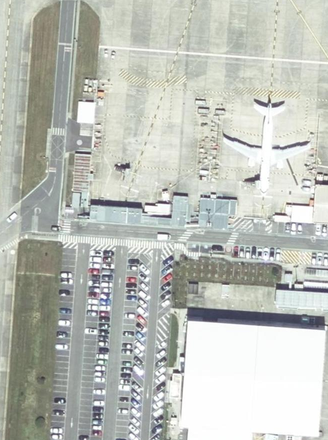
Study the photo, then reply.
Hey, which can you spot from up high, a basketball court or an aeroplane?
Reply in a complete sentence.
Of the two, only an aeroplane appears.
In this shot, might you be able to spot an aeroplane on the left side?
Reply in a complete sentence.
No, there is no aeroplane on the left side.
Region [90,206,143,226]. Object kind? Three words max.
building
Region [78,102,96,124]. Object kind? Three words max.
building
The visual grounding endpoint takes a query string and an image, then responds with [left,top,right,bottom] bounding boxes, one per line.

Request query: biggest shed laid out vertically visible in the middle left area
[73,155,92,192]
